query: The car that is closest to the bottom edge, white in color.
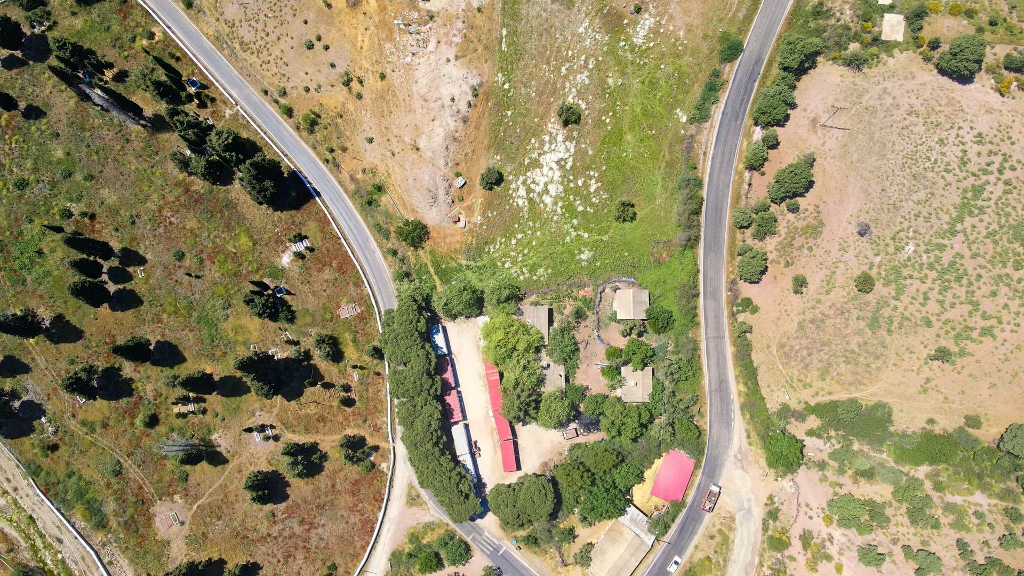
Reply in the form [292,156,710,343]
[668,554,680,574]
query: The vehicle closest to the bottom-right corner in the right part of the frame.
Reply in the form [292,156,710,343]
[701,482,721,515]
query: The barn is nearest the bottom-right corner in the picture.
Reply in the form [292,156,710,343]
[651,449,695,501]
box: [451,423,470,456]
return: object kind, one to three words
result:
shed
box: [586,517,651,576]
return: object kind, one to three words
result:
barn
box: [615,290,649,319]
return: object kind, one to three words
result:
house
